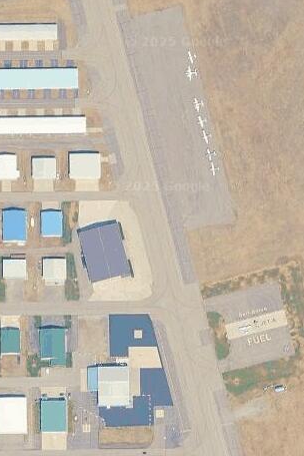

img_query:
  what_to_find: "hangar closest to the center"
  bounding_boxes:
[77,222,132,284]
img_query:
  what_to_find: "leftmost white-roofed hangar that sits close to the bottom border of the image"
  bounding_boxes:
[0,396,26,434]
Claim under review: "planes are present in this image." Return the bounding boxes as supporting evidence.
[186,66,196,81]
[193,100,202,111]
[239,323,252,332]
[201,130,211,144]
[206,149,215,162]
[187,51,196,64]
[197,116,206,129]
[210,163,219,176]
